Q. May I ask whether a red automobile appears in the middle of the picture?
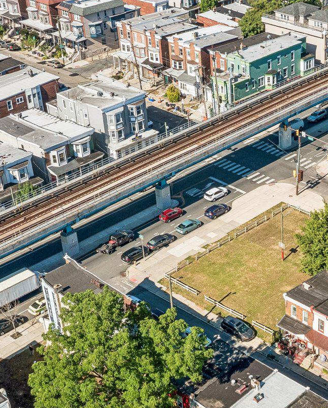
Yes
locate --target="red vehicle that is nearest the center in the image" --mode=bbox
[156,208,184,224]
